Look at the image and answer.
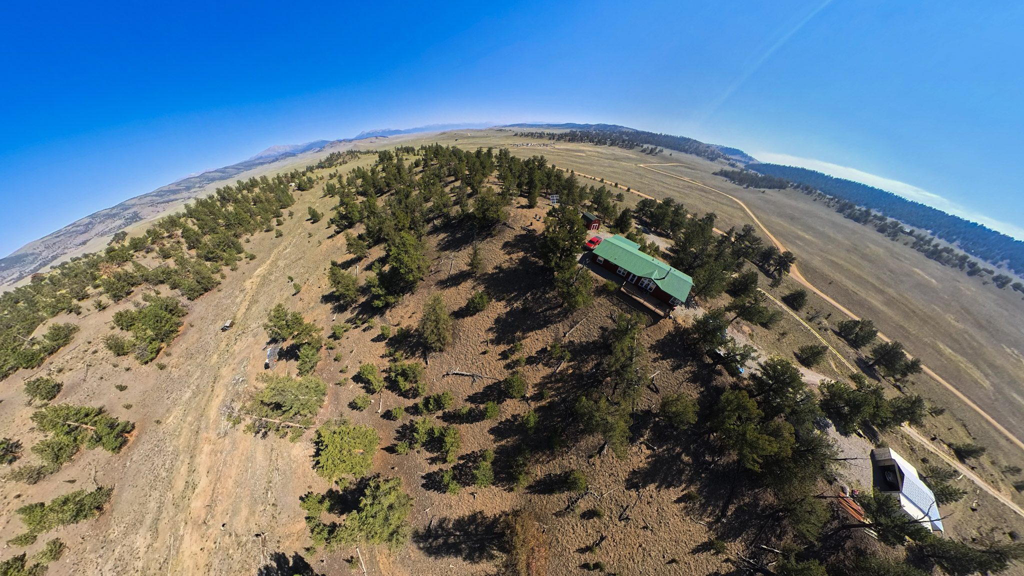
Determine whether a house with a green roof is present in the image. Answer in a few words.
Yes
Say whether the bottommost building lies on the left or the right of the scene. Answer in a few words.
right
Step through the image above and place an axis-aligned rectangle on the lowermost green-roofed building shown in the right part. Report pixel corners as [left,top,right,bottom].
[592,238,702,327]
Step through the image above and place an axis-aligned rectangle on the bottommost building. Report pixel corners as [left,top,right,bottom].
[867,445,946,524]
